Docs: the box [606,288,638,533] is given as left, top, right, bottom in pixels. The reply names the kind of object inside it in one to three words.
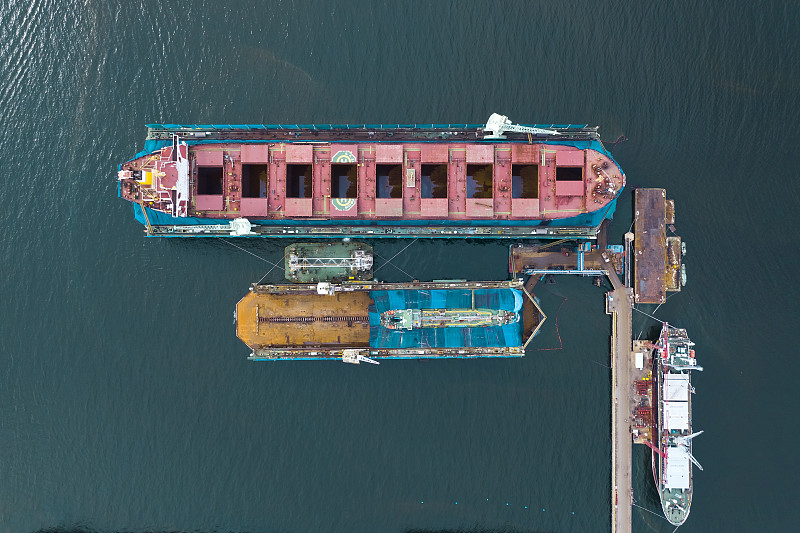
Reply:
pier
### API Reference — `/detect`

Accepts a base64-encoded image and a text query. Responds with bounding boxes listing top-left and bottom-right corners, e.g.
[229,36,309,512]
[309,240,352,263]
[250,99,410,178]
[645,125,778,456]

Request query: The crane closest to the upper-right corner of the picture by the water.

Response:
[485,118,559,140]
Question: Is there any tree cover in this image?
No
